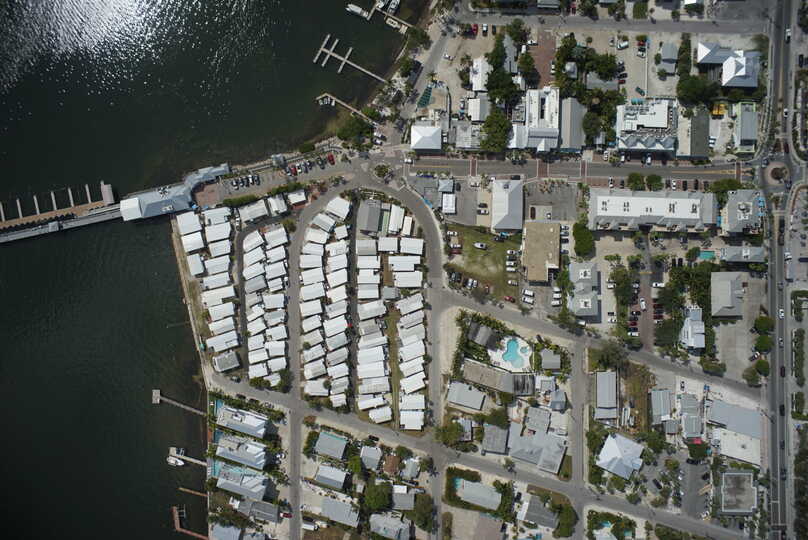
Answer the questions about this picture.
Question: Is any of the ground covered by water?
Yes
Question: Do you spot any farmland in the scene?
No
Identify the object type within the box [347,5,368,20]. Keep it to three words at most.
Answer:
boat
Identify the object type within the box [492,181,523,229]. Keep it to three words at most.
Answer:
building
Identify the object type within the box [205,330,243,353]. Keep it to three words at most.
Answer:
house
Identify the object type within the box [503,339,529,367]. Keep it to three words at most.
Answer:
swimming pool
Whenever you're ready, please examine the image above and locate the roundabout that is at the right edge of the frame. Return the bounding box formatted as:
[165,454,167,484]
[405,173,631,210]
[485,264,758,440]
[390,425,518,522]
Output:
[756,151,800,194]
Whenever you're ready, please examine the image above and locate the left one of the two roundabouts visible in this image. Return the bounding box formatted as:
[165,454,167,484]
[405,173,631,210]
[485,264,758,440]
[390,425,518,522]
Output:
[361,150,403,192]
